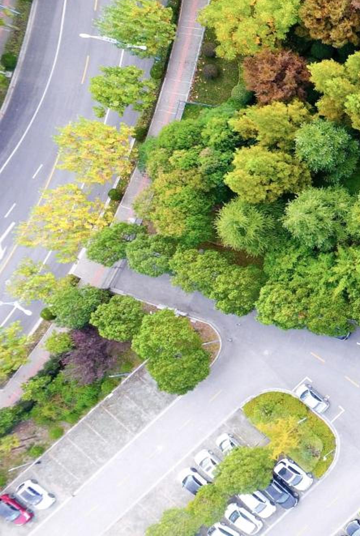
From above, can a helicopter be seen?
No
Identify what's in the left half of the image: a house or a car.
car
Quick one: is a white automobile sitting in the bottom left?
Yes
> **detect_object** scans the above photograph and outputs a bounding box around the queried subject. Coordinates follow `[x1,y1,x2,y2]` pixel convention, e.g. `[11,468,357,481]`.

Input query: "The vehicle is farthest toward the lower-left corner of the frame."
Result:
[0,494,34,525]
